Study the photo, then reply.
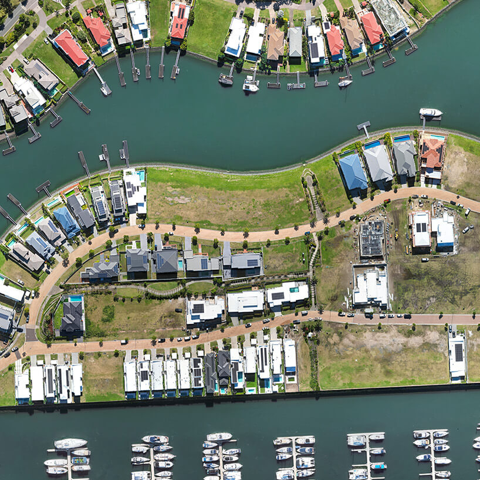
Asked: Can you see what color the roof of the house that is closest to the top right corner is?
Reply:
red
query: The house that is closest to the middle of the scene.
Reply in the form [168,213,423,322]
[223,253,263,269]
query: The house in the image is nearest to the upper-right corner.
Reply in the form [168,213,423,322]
[360,11,385,46]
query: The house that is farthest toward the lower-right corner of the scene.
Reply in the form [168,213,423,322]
[449,338,465,377]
